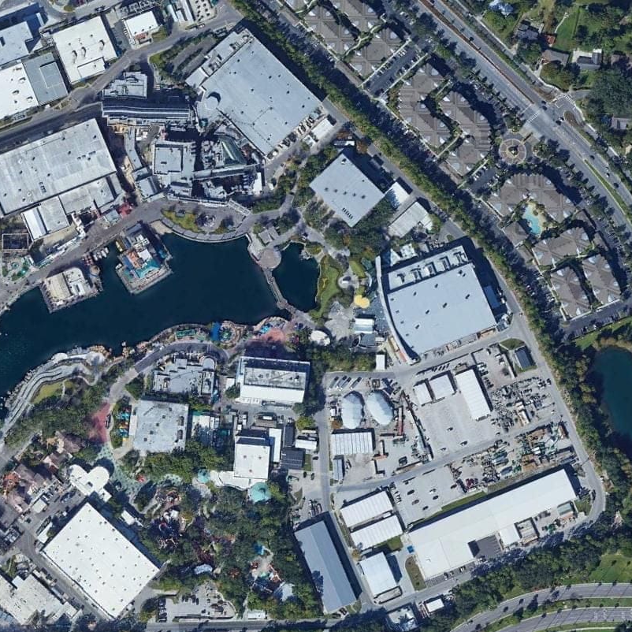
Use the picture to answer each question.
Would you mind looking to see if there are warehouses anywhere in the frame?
Yes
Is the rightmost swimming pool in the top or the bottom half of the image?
top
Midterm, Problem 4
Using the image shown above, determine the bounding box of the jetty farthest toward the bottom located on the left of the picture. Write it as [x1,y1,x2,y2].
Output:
[41,267,102,312]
